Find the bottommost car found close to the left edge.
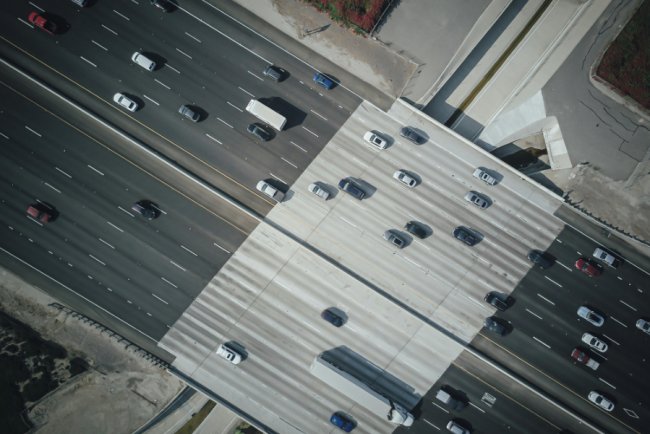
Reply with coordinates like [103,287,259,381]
[25,206,51,224]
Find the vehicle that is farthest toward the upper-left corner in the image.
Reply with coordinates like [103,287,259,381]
[27,12,57,36]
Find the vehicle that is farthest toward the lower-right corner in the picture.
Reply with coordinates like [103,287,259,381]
[589,391,614,410]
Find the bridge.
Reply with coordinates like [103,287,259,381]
[159,98,569,434]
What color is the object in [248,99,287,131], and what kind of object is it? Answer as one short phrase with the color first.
white truck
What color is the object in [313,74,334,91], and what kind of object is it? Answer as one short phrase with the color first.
blue car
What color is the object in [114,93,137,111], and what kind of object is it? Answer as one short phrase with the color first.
white car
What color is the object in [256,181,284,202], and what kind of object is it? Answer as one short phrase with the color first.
white truck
